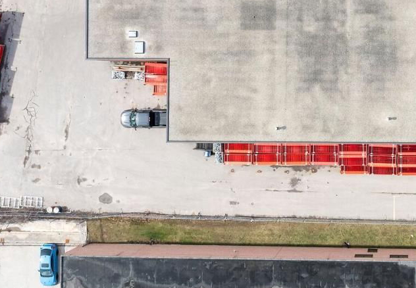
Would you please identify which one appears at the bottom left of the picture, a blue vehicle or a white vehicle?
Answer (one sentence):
There is a blue vehicle at the bottom left of the picture.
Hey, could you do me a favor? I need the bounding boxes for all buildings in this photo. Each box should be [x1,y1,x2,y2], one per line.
[62,243,416,288]
[86,0,416,143]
